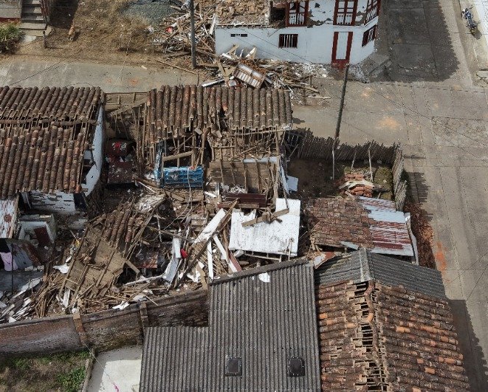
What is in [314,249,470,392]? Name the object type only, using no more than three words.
house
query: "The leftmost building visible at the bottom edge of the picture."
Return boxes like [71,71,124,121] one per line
[141,259,321,392]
